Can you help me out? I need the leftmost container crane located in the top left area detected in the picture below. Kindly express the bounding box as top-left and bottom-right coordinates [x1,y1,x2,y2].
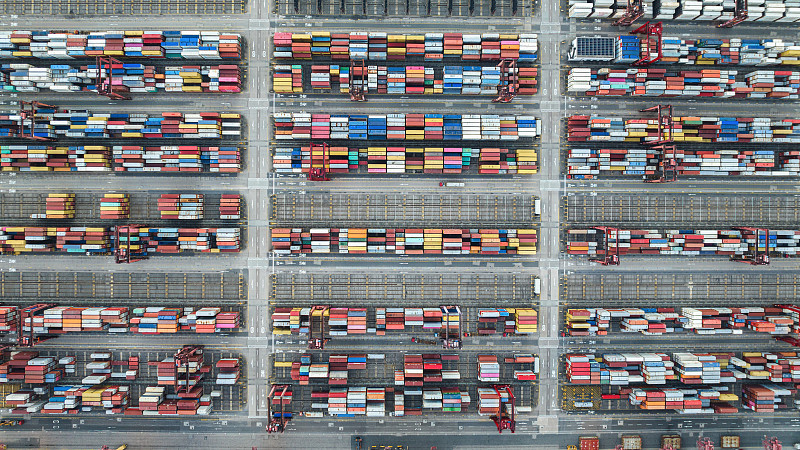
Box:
[20,101,62,143]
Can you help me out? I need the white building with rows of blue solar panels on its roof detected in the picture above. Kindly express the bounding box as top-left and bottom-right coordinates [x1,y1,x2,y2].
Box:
[567,36,614,65]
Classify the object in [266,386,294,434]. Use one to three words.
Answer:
container crane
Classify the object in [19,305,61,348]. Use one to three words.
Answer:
container crane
